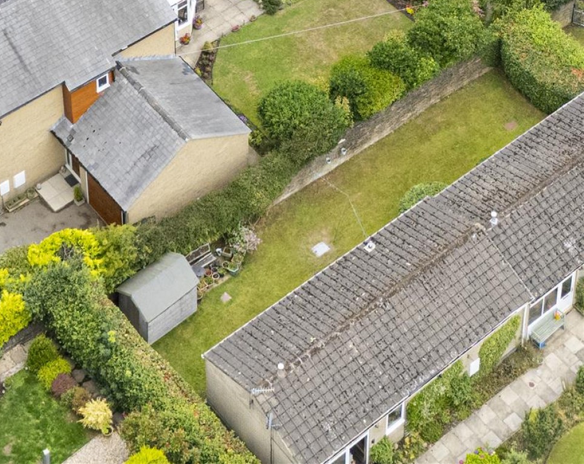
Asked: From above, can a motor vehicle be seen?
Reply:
No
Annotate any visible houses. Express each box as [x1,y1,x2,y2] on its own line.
[202,77,584,464]
[0,0,253,235]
